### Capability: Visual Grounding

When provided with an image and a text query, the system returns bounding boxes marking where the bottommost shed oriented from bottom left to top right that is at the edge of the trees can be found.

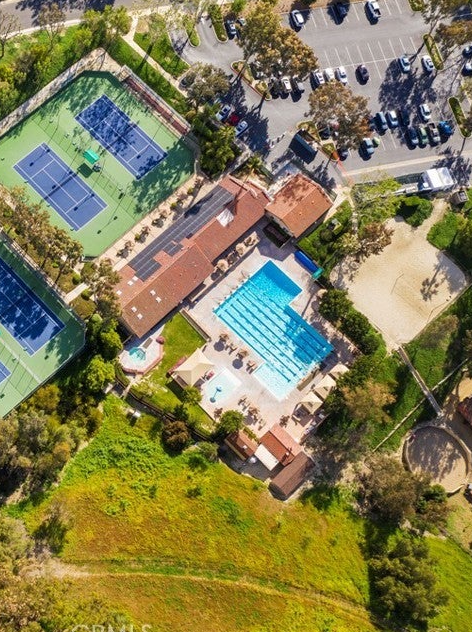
[264,450,315,500]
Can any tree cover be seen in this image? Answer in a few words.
Yes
